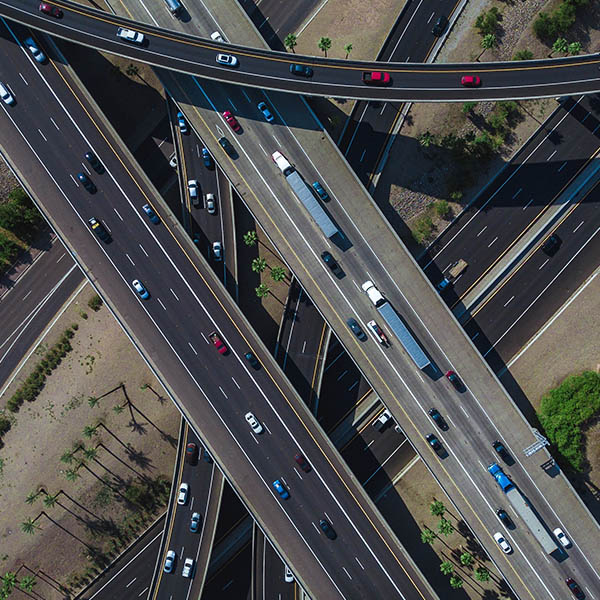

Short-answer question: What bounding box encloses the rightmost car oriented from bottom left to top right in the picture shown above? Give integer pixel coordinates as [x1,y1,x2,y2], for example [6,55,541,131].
[541,234,560,254]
